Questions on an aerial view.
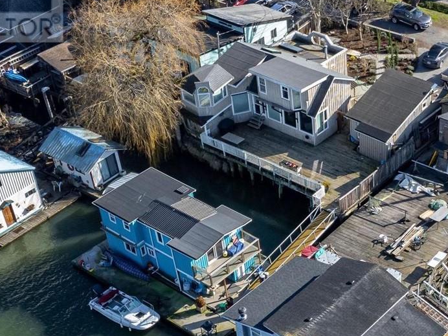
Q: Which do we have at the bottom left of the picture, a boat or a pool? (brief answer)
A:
boat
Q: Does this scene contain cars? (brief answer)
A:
Yes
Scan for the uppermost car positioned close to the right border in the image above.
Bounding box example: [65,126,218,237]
[388,0,434,29]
